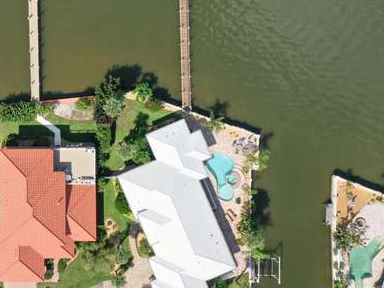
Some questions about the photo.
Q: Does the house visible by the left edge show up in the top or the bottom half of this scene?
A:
bottom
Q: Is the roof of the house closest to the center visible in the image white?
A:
Yes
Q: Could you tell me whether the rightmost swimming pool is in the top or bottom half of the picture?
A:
bottom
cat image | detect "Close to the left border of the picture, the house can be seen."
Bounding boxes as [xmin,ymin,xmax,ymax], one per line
[0,145,97,283]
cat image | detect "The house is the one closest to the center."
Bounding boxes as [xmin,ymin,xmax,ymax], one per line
[118,119,235,288]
